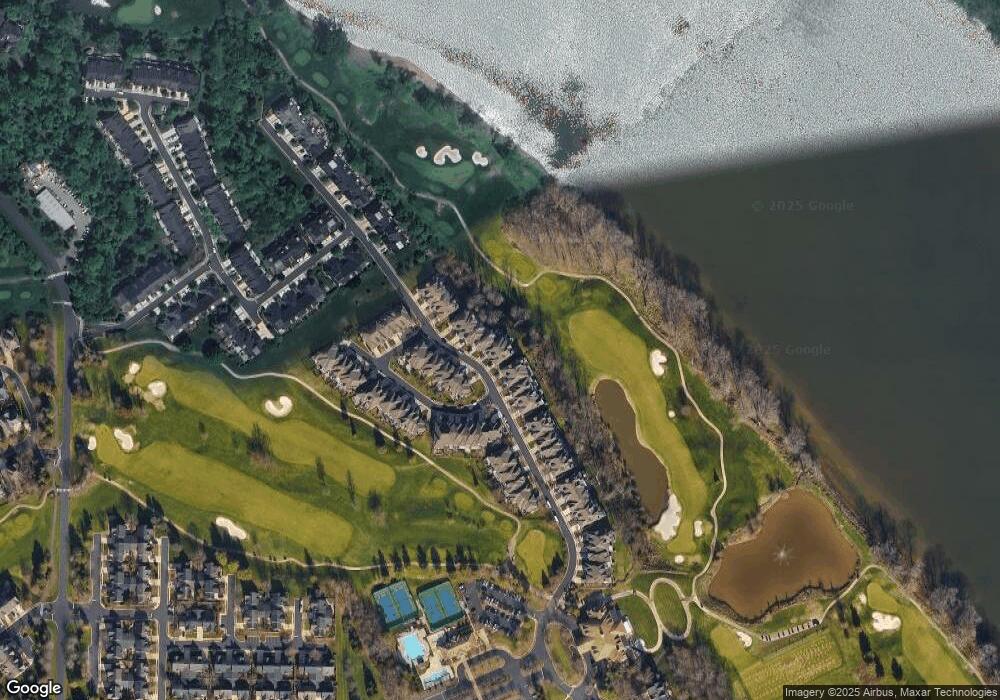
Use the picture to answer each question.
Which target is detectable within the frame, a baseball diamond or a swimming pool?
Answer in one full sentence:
Of the two, only a swimming pool appears.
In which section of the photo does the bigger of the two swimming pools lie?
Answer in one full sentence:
The bigger of the two swimming pools is in the bottom part of the image.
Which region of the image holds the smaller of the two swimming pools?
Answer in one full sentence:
The smaller of the two swimming pools appears toward the bottom of the photo.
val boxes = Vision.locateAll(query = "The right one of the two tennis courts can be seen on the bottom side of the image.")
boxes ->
[417,580,464,627]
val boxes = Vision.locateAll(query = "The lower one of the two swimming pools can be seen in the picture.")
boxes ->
[420,665,457,690]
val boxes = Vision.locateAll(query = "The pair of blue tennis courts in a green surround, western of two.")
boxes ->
[373,580,419,626]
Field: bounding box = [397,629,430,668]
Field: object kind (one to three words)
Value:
swimming pool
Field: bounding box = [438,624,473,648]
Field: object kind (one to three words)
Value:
building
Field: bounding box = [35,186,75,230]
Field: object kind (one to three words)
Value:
shed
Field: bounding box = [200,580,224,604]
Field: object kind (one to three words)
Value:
house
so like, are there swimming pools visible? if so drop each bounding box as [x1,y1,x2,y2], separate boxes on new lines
[420,665,457,690]
[397,629,430,668]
